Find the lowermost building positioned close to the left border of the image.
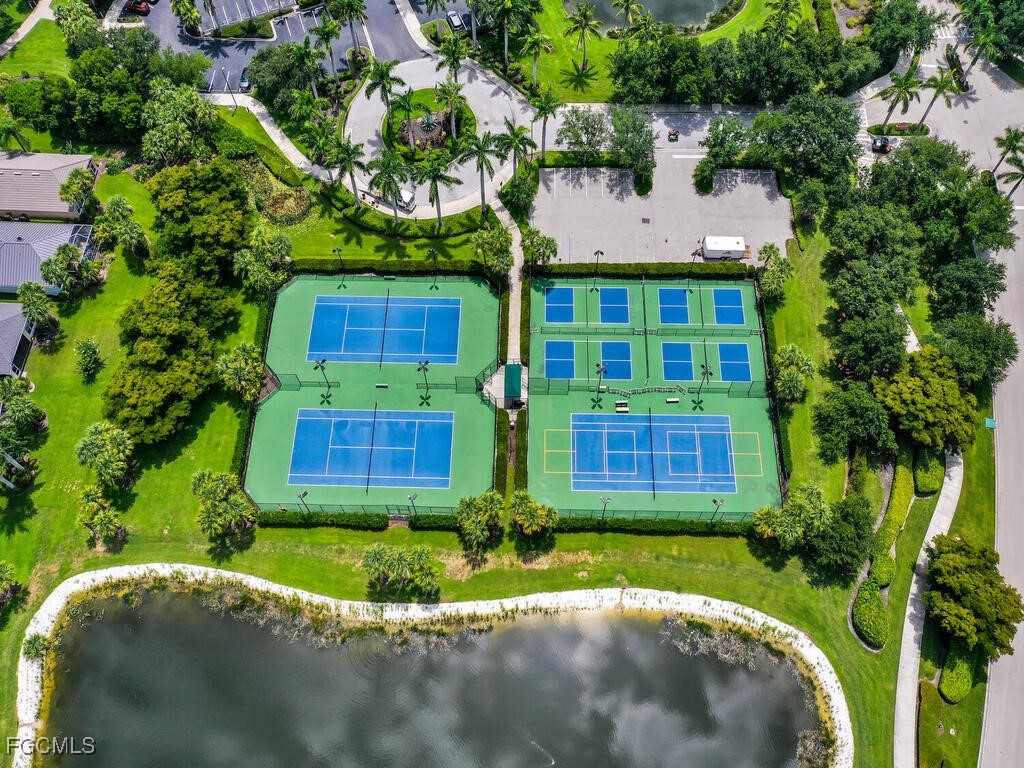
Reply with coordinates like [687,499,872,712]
[0,303,44,386]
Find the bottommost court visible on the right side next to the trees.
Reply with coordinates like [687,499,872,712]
[528,391,781,515]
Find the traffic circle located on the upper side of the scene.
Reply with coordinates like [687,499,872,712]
[381,86,478,166]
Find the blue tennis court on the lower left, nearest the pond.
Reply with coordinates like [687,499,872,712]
[244,387,495,515]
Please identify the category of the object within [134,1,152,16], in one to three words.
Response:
car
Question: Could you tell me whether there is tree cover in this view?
Yes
